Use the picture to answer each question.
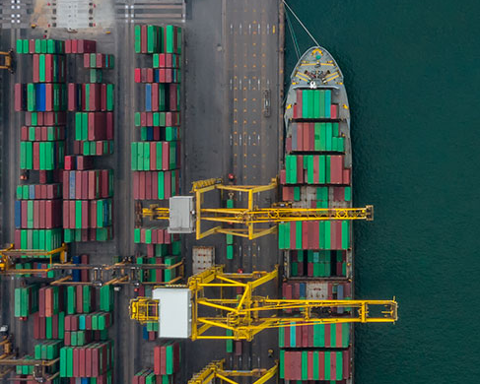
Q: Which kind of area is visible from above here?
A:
port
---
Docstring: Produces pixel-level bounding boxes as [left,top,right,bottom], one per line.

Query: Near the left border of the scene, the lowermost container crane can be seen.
[0,347,60,383]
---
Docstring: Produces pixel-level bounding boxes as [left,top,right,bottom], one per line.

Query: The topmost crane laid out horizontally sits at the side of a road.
[142,176,376,241]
